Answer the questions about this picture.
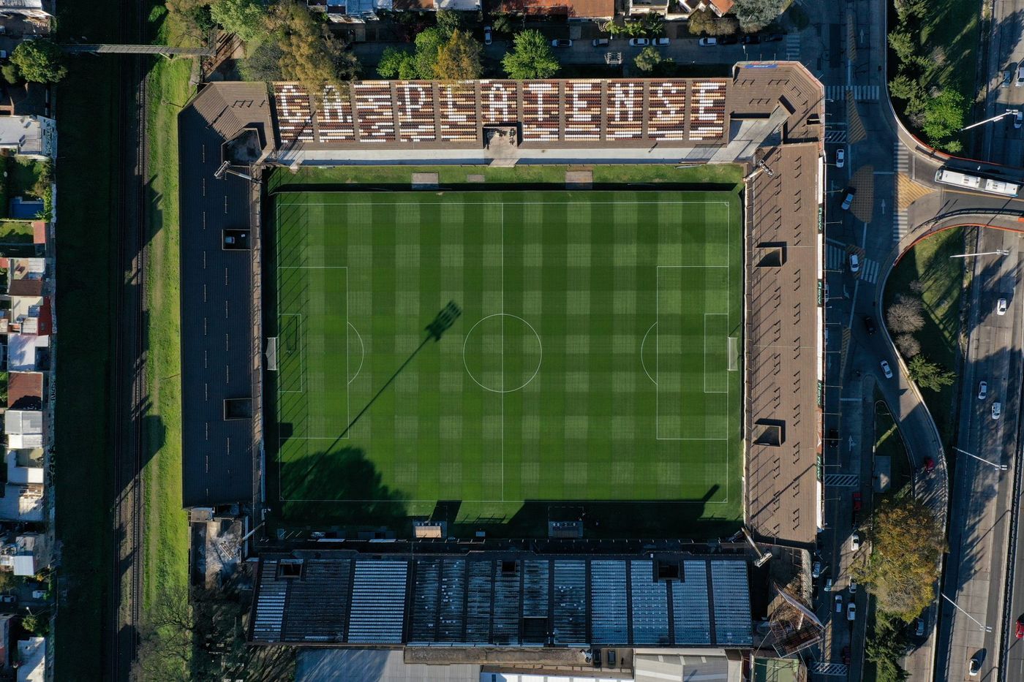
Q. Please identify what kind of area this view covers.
sports ground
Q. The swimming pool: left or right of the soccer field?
to its left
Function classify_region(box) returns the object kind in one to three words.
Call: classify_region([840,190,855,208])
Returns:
car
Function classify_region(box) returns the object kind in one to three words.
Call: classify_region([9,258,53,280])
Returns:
house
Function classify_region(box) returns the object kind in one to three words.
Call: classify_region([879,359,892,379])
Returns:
vehicle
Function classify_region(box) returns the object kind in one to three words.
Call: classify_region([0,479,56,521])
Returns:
house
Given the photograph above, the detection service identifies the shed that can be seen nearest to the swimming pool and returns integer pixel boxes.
[33,222,53,245]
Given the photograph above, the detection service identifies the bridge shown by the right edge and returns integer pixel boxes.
[894,145,1024,265]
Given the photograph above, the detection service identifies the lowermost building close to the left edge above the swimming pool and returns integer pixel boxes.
[0,115,53,162]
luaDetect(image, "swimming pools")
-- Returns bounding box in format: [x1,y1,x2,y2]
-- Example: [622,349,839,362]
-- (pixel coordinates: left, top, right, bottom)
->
[10,197,46,219]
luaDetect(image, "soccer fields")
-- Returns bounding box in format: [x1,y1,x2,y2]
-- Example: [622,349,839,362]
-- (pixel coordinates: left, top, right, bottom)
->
[277,202,730,520]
